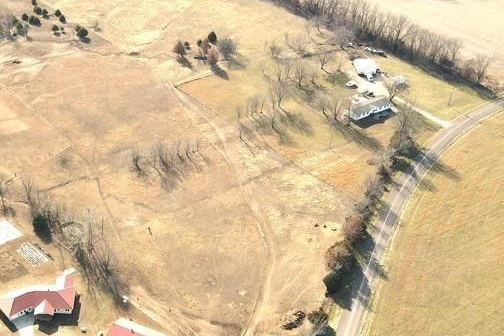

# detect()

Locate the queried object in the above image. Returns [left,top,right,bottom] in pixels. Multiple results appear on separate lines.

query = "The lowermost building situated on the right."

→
[343,93,393,119]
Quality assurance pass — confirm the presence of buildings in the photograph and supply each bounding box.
[349,58,380,78]
[389,74,412,86]
[343,93,393,119]
[0,272,75,325]
[108,318,168,336]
